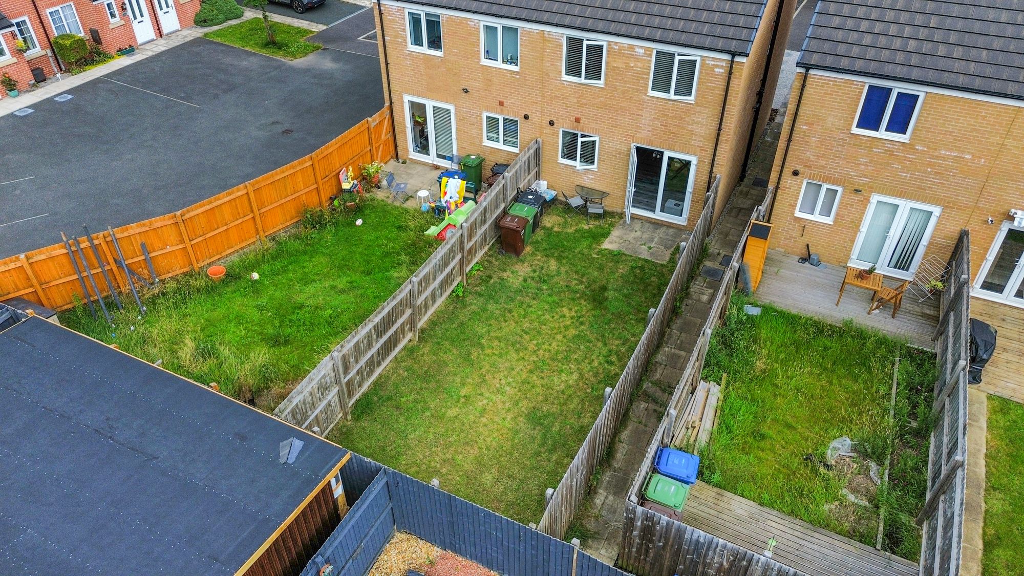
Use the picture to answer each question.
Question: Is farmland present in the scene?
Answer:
No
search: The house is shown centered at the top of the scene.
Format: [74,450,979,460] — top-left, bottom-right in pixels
[377,0,793,235]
